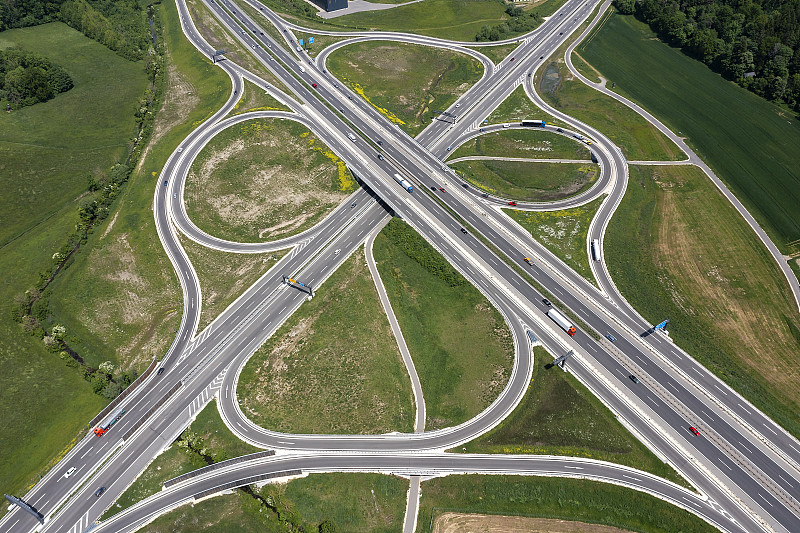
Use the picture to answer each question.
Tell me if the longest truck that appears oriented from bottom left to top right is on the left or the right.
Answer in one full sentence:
The longest truck that appears oriented from bottom left to top right appears in the left half of the scene.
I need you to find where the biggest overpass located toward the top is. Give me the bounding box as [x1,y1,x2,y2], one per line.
[345,128,470,222]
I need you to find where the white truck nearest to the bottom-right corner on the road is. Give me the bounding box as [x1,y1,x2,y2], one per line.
[548,307,576,335]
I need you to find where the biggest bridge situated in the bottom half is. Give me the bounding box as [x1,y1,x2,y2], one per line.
[149,455,293,519]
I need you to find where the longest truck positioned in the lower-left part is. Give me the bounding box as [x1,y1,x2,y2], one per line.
[94,406,127,438]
